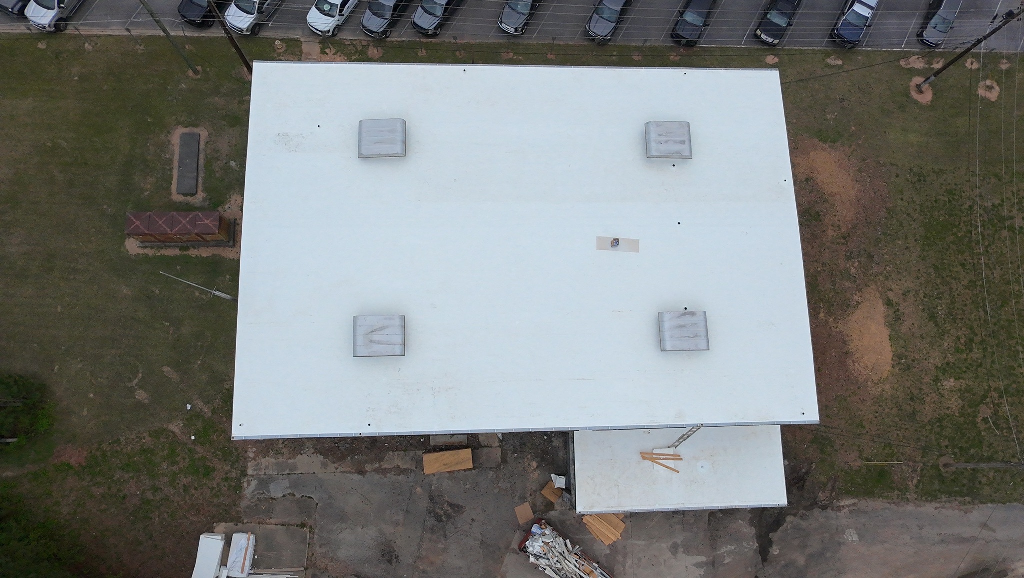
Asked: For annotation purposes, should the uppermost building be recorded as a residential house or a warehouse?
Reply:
warehouse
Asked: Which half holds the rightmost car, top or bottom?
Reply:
top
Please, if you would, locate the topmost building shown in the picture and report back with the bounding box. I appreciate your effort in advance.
[232,61,822,440]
